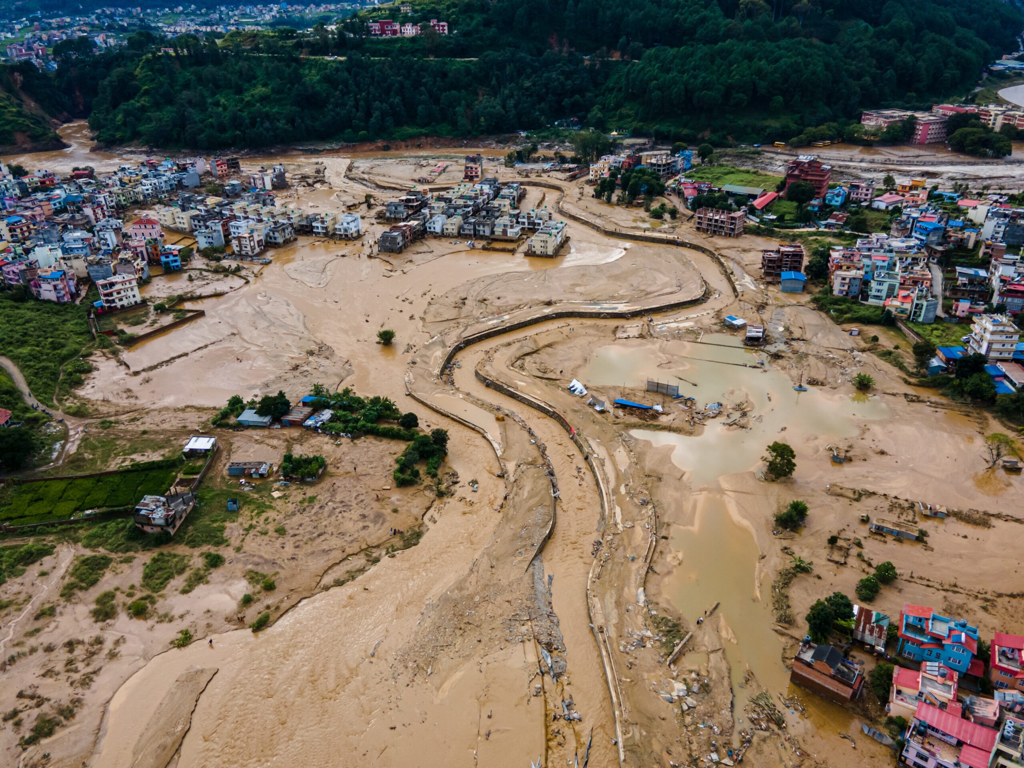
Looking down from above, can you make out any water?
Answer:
Yes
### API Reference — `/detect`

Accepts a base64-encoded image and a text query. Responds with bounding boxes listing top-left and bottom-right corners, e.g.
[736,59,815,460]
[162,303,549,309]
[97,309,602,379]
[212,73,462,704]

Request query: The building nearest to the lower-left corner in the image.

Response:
[134,478,208,535]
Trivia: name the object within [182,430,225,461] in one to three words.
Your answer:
shed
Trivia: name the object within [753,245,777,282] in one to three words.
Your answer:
building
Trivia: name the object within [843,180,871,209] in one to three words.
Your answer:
house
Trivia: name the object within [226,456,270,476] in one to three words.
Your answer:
shed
